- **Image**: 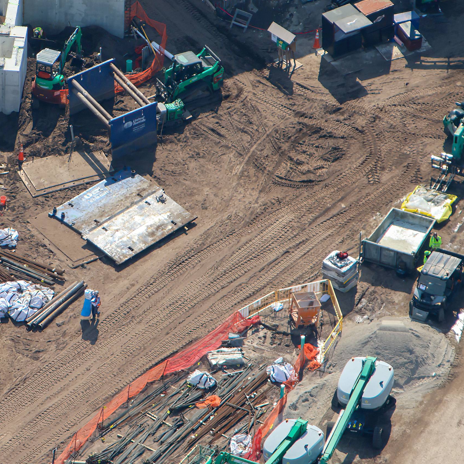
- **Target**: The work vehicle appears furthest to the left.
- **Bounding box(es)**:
[27,25,86,106]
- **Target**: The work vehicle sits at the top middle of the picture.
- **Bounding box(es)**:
[151,41,233,105]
